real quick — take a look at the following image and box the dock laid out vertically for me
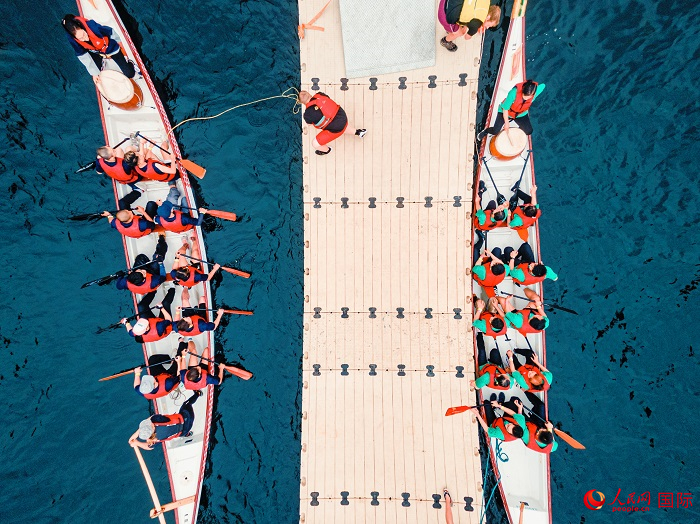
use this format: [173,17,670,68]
[297,0,487,524]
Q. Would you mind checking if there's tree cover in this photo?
No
